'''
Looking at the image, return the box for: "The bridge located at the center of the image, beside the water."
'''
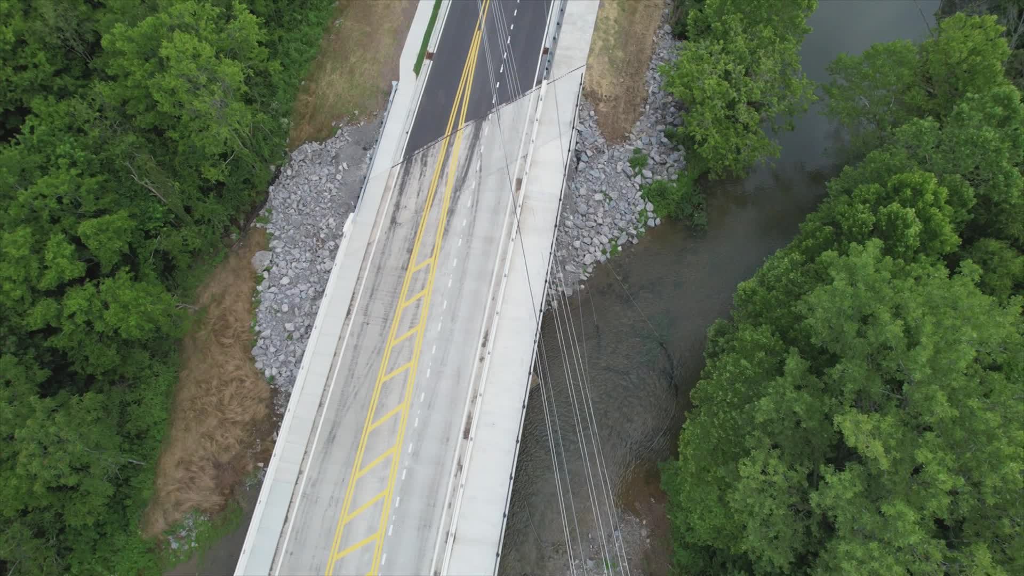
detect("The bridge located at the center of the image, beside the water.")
[234,65,586,576]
